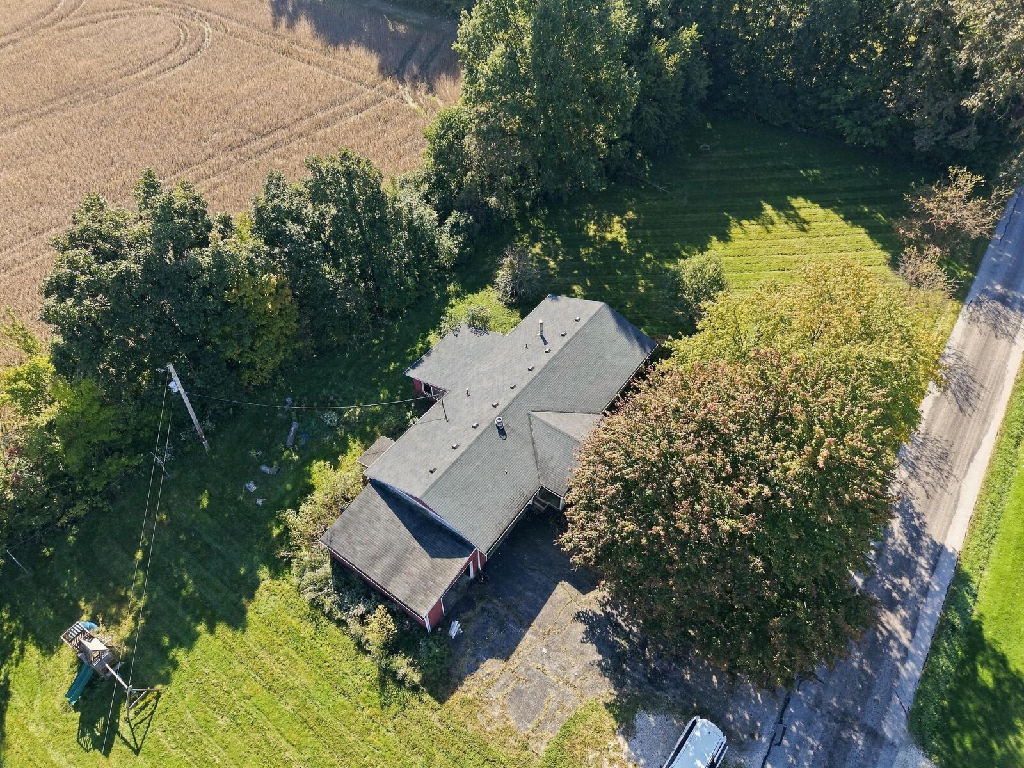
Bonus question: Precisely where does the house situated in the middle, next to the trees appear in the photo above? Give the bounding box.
[318,293,659,629]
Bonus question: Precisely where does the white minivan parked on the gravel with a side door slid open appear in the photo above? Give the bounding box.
[661,718,725,768]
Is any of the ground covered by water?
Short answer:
No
